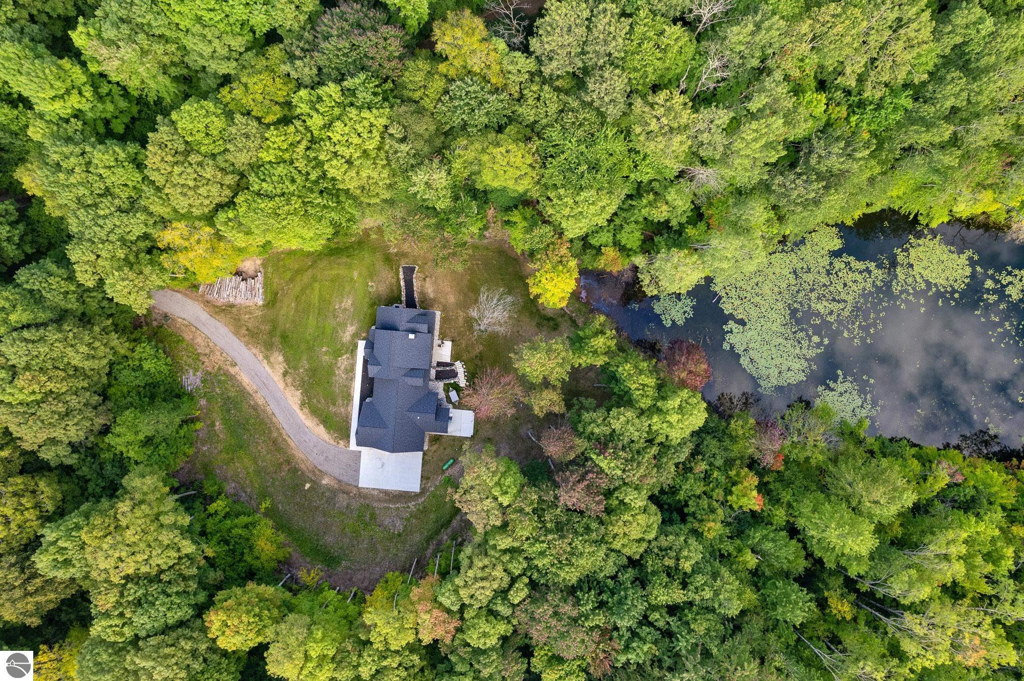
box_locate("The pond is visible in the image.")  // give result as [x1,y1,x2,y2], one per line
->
[580,205,1024,457]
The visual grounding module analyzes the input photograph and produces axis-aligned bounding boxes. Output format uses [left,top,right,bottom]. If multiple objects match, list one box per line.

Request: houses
[355,307,450,453]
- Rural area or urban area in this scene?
rural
